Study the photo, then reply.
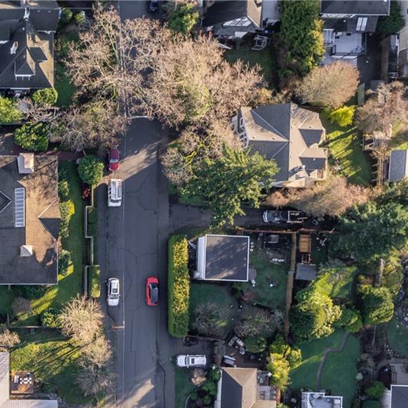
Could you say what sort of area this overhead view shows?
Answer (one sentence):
The area seen from above is a residential area.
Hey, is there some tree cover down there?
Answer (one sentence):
Yes, tree cover can be seen from above here.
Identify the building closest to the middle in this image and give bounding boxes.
[198,234,249,282]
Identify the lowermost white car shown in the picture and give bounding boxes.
[176,354,206,368]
